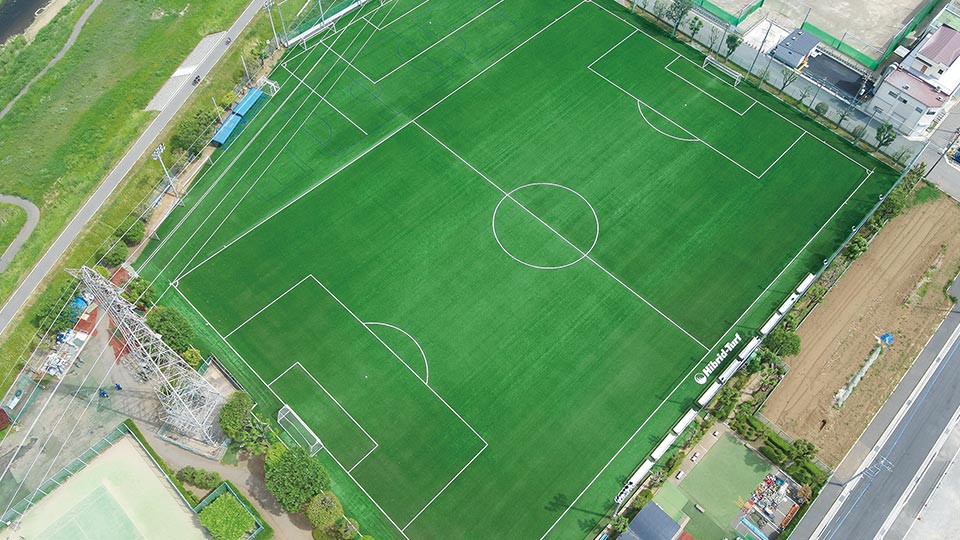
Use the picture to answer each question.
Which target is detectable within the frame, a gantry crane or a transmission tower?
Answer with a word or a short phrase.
transmission tower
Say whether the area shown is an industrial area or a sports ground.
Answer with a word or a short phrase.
sports ground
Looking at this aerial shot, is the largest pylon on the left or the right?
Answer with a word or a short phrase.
left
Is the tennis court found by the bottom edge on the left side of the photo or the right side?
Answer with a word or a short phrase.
left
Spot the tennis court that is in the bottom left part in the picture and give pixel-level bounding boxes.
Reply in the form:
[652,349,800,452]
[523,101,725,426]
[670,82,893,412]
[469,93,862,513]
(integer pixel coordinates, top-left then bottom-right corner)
[0,435,216,540]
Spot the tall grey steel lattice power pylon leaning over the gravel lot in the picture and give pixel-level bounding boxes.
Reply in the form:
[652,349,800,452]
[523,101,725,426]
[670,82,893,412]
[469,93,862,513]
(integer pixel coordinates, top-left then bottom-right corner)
[54,255,233,455]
